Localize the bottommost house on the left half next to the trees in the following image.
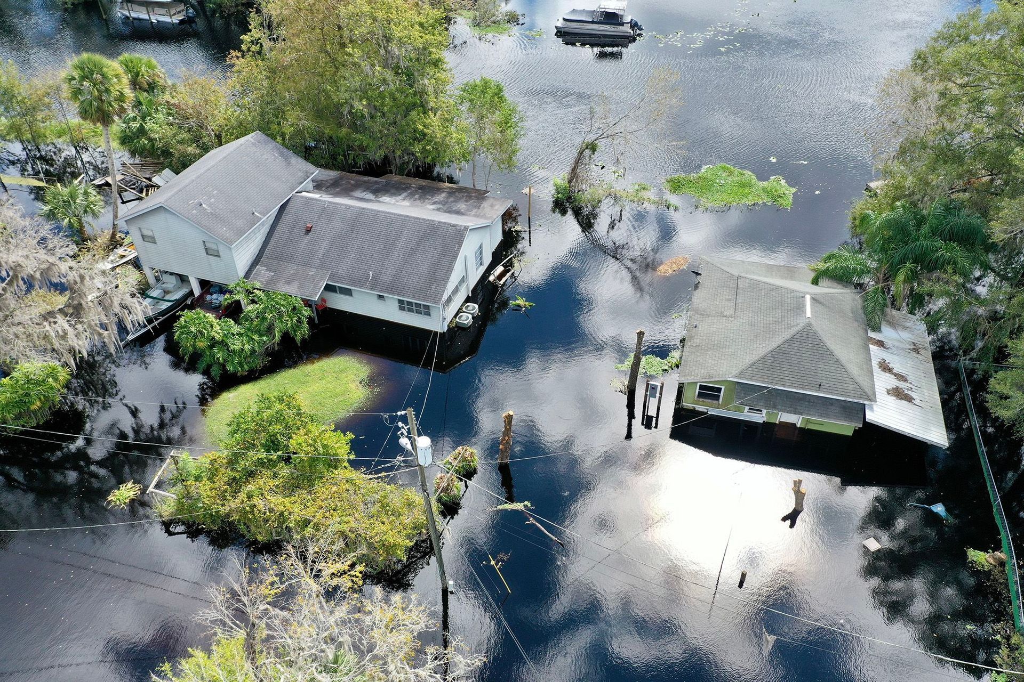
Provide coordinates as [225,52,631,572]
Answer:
[110,131,513,354]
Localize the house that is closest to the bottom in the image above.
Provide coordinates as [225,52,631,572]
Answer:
[678,255,948,451]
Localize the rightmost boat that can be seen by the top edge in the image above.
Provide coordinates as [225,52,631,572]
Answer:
[561,2,641,44]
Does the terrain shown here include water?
Yes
